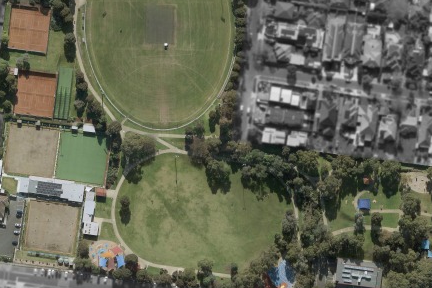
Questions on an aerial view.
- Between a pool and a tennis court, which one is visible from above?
tennis court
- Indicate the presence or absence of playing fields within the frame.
Yes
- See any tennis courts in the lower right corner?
No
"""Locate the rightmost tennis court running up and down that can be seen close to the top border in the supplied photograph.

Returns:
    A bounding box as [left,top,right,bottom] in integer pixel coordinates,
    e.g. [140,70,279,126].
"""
[28,10,52,52]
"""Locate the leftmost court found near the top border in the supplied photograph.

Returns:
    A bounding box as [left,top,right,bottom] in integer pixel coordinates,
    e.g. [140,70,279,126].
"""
[8,8,32,50]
